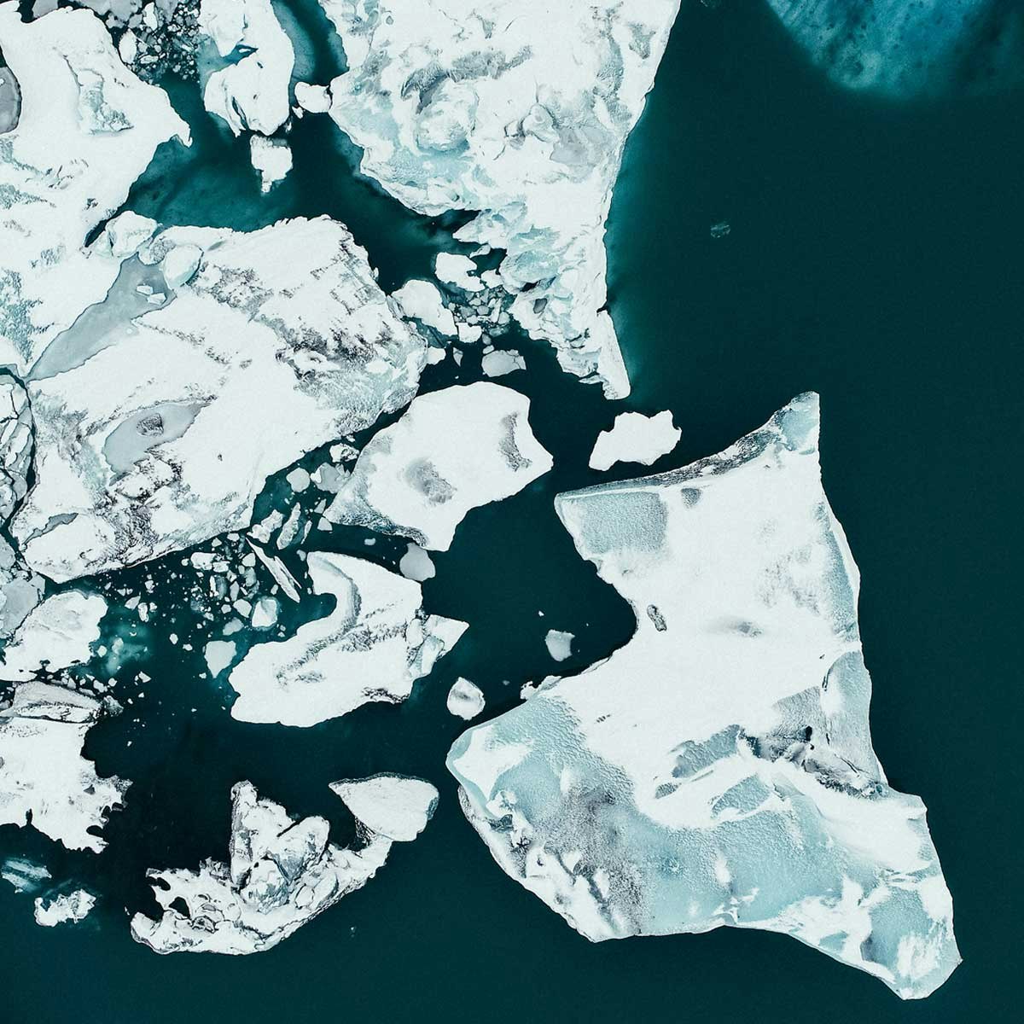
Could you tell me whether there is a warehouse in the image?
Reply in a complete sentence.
No, no warehouse is visible in the scene.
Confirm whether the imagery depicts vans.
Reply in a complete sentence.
No, I find no van anywhere in the image.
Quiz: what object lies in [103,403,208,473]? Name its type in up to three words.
pond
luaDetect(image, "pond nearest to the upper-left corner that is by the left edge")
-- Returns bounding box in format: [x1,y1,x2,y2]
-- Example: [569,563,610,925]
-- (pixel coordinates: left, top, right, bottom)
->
[25,253,175,382]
